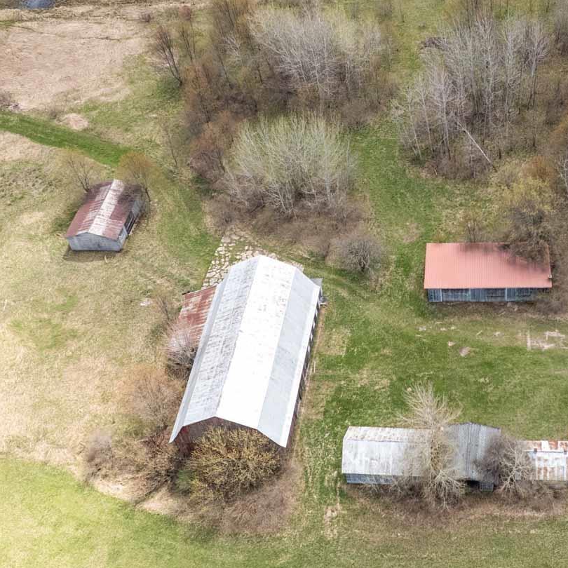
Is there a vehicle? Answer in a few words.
No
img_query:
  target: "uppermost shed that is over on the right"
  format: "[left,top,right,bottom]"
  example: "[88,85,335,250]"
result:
[423,243,552,303]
